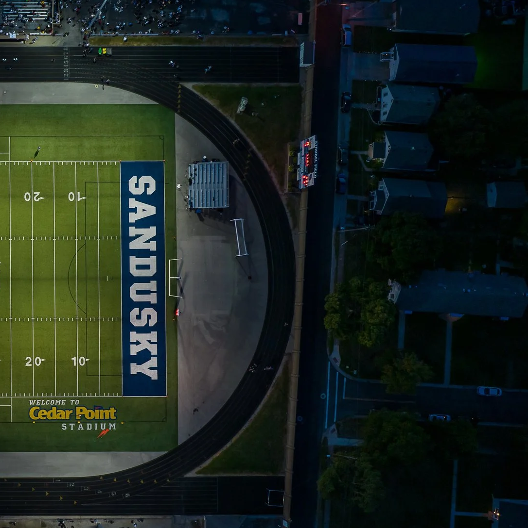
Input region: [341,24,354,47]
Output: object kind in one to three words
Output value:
vehicle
